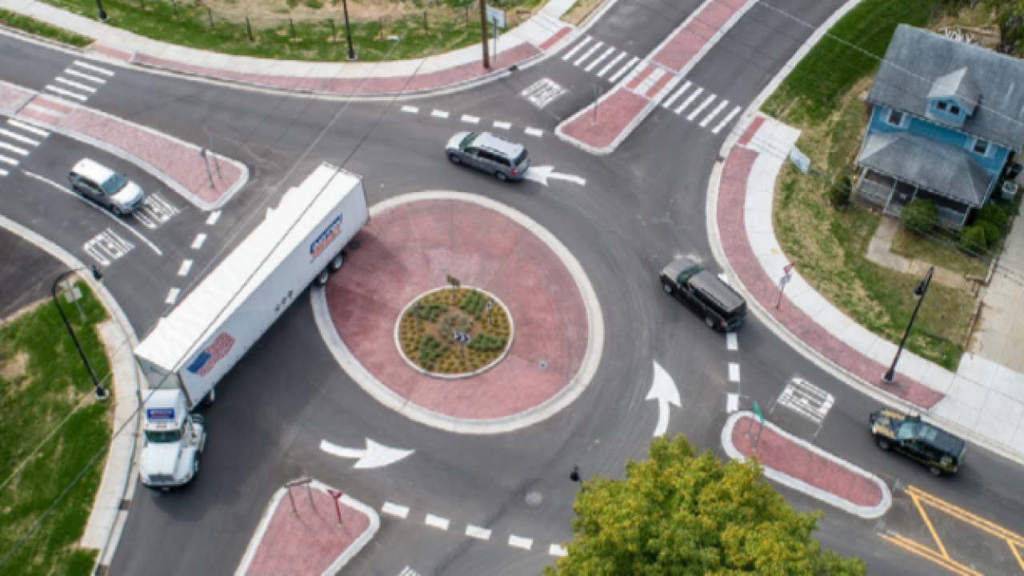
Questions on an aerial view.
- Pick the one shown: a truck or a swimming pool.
truck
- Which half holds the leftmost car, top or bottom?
top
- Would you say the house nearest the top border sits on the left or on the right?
right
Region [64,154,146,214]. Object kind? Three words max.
car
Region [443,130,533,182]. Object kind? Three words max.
car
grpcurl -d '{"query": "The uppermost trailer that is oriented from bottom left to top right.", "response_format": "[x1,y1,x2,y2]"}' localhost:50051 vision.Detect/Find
[132,161,370,403]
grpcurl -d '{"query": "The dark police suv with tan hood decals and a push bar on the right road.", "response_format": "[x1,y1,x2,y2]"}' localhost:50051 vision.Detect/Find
[866,403,977,482]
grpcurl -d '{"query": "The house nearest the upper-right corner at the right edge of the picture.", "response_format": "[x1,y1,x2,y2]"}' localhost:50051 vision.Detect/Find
[848,22,1024,242]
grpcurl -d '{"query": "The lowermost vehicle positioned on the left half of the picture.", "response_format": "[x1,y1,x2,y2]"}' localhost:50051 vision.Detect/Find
[131,377,214,490]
